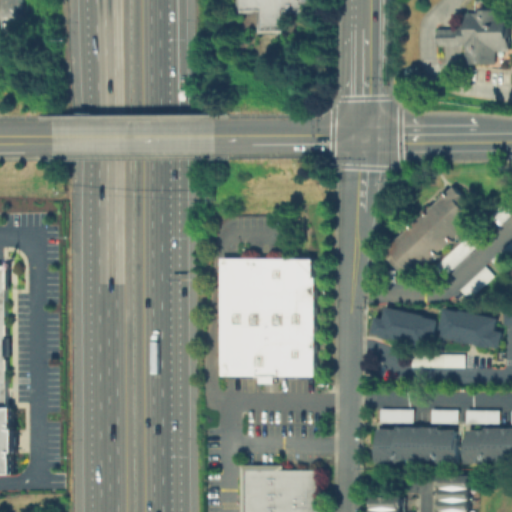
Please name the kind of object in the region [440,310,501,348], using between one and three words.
building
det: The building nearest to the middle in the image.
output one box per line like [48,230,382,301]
[220,258,314,386]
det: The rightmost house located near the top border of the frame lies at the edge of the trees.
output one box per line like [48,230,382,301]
[464,10,510,64]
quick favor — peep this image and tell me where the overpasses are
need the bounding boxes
[39,113,219,158]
